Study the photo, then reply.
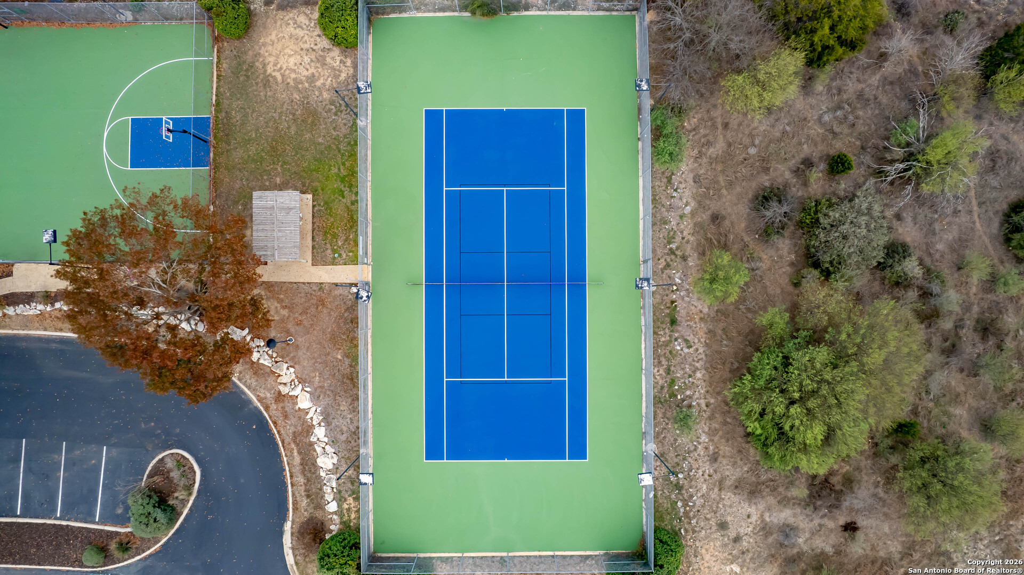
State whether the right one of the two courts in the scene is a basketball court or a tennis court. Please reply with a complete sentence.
Specifically, the right one of the two courts is a tennis court.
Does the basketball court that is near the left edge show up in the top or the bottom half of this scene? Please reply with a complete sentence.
Seen from above, the basketball court that is near the left edge lies in the top half of the view.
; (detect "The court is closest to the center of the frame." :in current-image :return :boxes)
[367,9,646,559]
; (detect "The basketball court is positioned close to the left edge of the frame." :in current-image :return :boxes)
[0,19,216,259]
